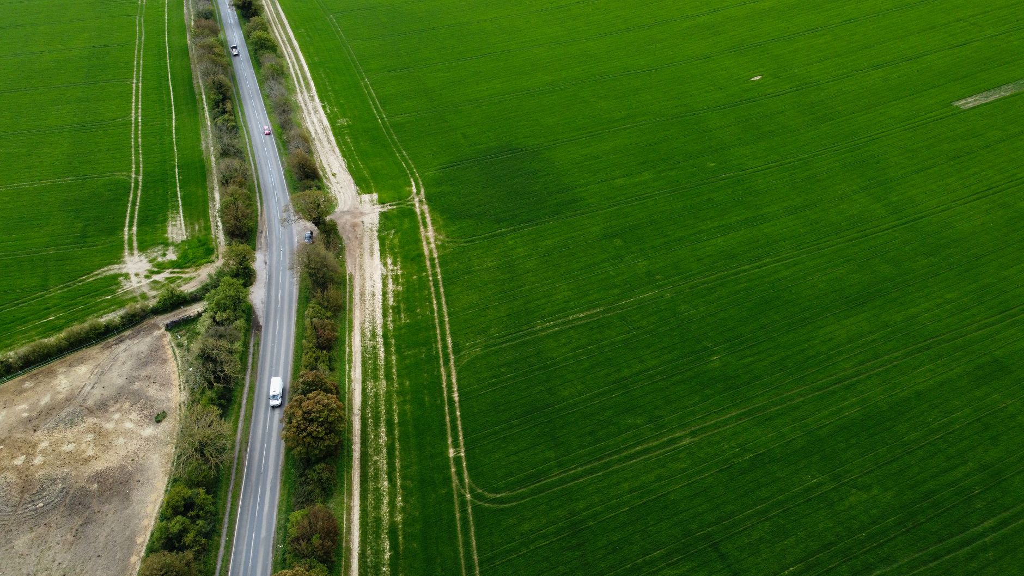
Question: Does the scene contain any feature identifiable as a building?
No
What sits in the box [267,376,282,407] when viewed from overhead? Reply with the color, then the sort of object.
white vehicle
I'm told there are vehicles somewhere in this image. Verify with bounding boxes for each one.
[262,125,269,134]
[304,231,312,243]
[267,376,282,407]
[232,47,239,55]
